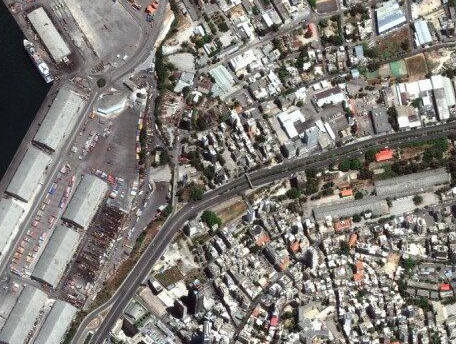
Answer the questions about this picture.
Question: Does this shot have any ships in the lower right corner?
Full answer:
No, I see no ship in the lower right corner.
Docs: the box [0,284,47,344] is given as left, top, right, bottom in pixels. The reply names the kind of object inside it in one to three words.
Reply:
building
